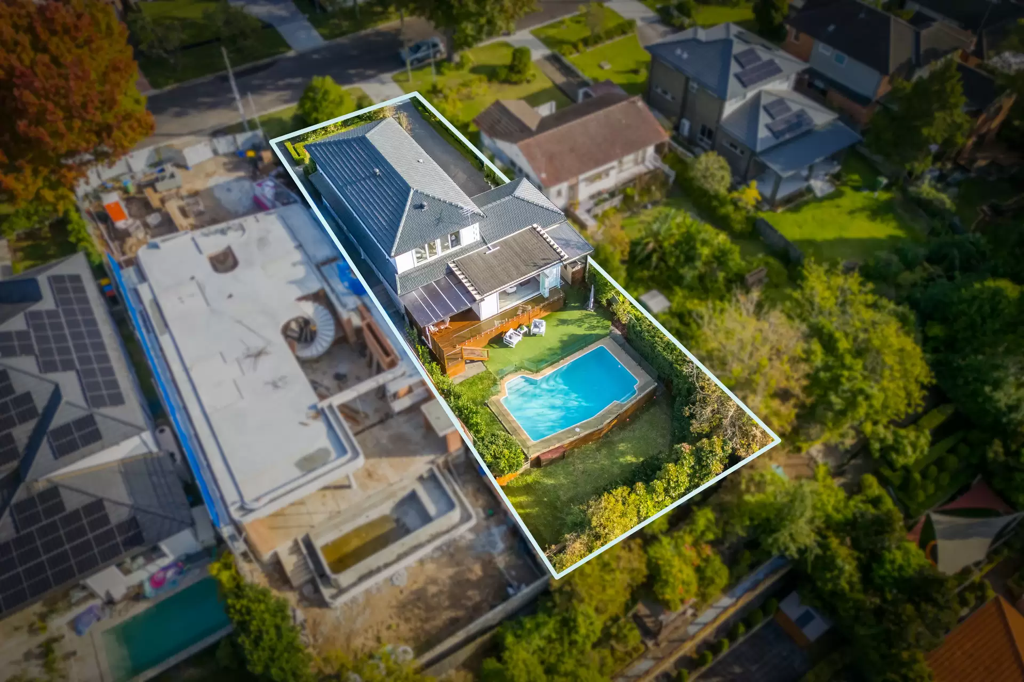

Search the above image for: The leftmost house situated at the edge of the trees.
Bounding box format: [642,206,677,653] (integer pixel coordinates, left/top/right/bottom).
[0,250,202,636]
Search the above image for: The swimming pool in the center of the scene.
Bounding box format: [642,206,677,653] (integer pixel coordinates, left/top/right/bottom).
[488,335,657,464]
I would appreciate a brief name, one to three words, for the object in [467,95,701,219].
house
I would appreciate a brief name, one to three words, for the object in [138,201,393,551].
building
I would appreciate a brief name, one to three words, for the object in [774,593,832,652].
shed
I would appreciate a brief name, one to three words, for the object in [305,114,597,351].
house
